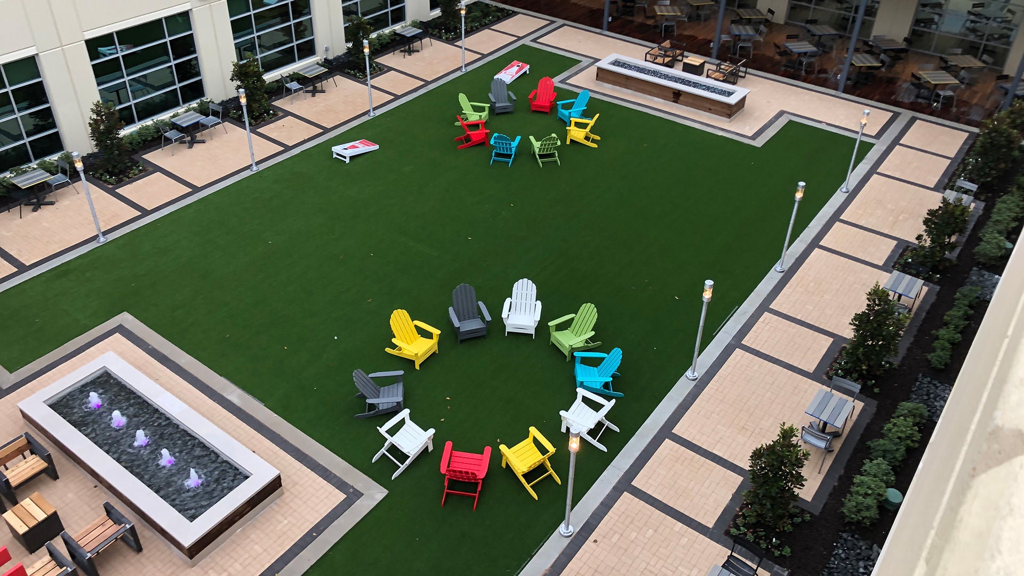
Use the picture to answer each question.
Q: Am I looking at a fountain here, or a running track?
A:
fountain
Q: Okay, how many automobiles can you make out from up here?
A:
0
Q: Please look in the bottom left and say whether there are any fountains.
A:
Yes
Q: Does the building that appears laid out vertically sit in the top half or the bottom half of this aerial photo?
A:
bottom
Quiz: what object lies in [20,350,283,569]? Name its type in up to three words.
fountain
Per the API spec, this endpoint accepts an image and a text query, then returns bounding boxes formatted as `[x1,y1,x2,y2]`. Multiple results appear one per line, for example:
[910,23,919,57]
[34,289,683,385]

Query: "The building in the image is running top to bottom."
[875,224,1024,576]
